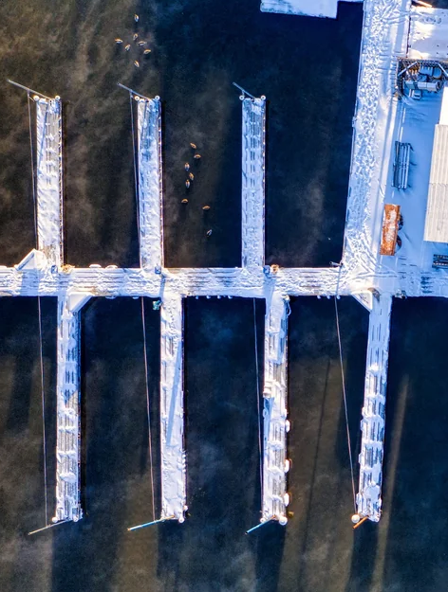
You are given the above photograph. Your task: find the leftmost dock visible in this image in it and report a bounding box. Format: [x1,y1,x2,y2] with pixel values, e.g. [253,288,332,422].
[33,95,66,266]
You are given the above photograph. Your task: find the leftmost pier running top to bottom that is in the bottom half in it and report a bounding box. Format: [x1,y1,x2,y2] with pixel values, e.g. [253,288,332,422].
[52,296,84,522]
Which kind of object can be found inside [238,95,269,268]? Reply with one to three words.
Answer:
pier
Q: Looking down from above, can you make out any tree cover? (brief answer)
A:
No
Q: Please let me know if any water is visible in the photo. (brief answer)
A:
Yes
